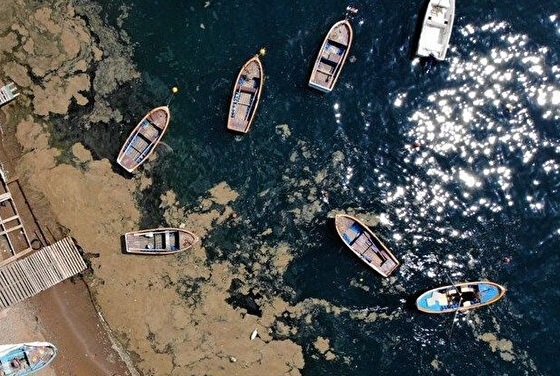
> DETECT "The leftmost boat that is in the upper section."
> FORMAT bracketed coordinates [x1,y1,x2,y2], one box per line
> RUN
[123,105,172,171]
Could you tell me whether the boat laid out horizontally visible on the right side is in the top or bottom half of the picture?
bottom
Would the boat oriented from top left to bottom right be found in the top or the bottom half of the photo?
bottom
